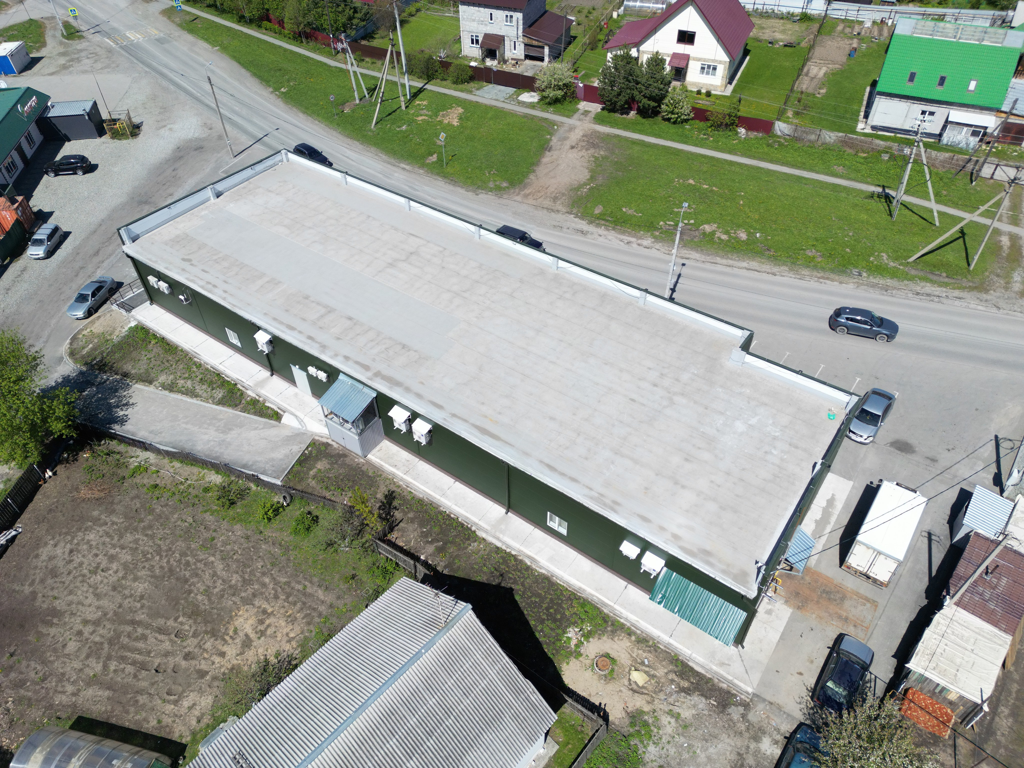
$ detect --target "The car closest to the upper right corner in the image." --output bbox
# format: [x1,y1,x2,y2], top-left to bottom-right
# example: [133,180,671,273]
[830,304,900,343]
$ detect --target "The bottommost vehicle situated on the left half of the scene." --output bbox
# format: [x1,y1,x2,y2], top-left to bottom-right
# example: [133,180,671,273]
[65,271,119,316]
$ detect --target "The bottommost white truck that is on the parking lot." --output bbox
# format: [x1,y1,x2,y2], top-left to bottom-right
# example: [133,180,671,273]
[842,472,932,593]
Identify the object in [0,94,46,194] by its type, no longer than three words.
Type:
building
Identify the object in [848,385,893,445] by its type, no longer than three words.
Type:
car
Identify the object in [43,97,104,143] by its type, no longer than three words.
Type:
shed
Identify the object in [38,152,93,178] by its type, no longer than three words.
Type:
car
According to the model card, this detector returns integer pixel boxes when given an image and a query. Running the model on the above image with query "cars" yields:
[65,271,119,316]
[495,216,552,250]
[764,718,826,768]
[22,221,64,258]
[806,635,873,726]
[830,304,900,343]
[38,152,93,178]
[294,138,342,167]
[848,385,893,445]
